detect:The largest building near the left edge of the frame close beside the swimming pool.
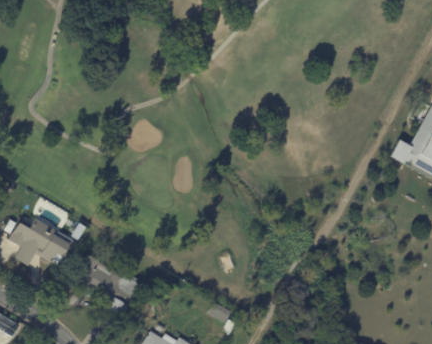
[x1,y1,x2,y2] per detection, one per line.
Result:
[10,218,74,266]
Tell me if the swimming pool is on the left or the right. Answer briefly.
left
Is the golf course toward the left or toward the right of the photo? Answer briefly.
left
